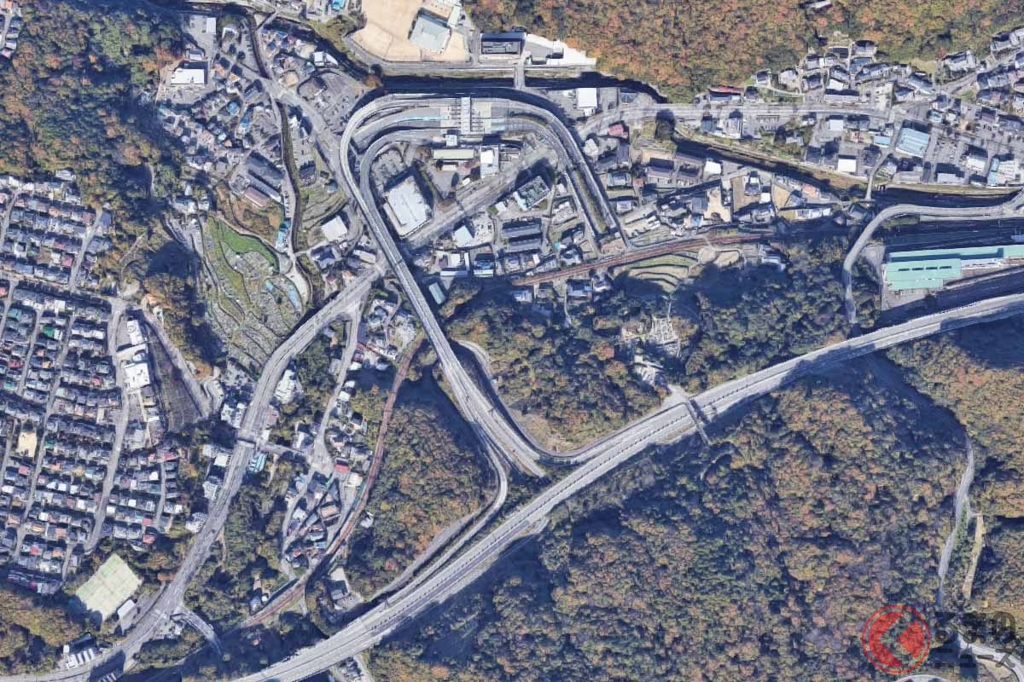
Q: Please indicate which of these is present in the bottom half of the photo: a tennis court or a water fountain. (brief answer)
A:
tennis court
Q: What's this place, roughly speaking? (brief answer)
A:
residential area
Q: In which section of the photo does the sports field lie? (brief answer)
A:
top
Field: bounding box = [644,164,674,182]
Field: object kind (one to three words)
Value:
house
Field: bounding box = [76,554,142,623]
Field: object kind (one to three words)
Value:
tennis court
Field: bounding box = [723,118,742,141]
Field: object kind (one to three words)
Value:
building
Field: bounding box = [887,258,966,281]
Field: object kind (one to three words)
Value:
shed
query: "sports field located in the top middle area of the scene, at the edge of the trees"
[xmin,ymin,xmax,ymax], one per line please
[353,0,468,62]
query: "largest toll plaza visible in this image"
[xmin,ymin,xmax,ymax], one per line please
[425,95,506,136]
